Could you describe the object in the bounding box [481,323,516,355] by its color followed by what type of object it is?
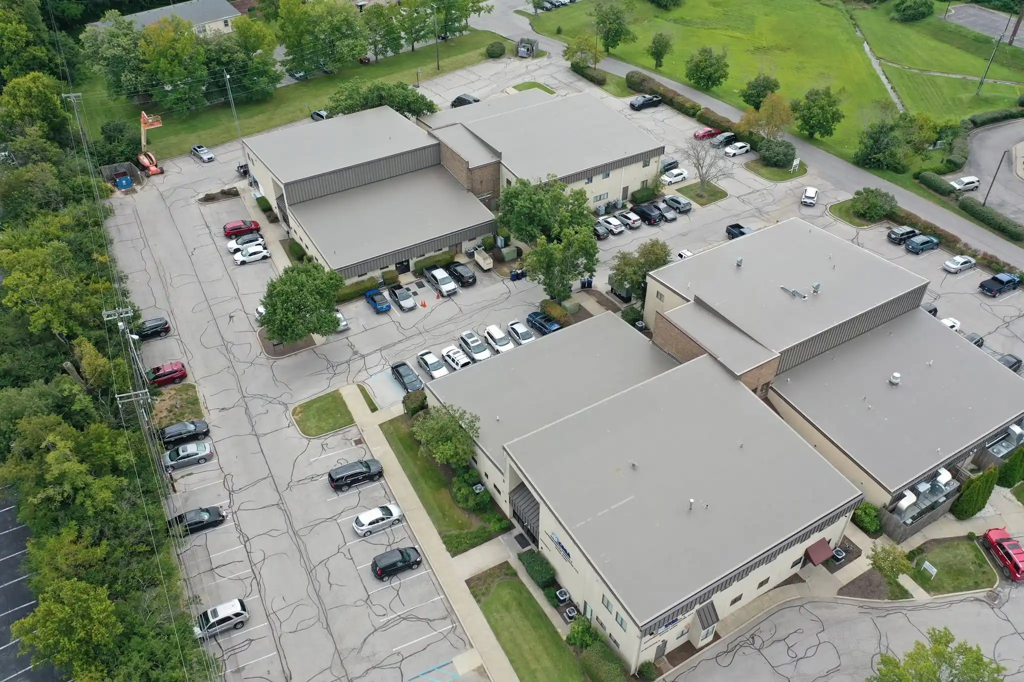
white car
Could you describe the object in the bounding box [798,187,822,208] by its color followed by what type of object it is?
white car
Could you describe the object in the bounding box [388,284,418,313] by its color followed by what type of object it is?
gray car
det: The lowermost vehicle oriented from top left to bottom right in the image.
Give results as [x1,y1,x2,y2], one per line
[985,530,1024,586]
